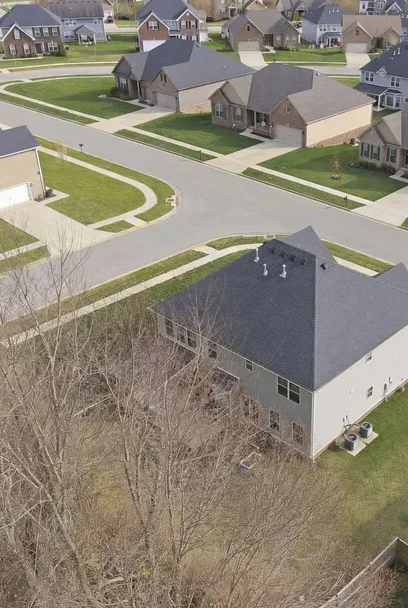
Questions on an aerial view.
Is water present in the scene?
No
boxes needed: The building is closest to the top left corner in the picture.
[0,1,63,58]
